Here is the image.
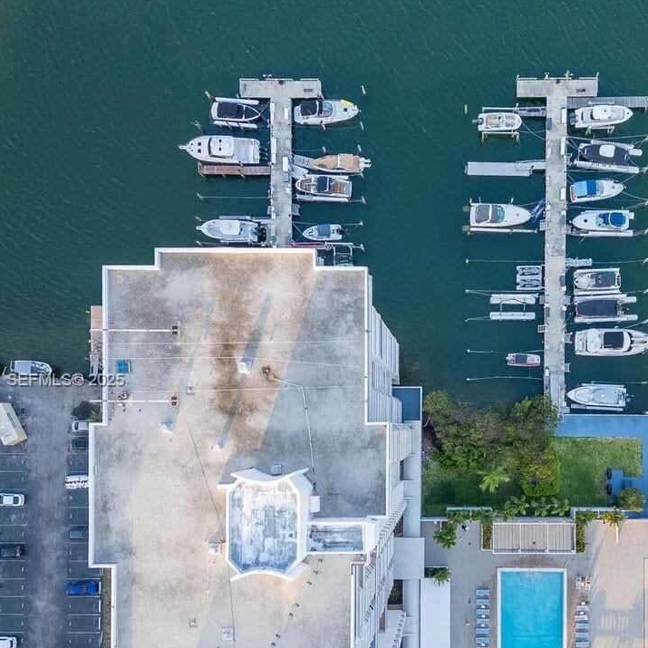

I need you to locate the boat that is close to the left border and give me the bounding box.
[12,358,55,376]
